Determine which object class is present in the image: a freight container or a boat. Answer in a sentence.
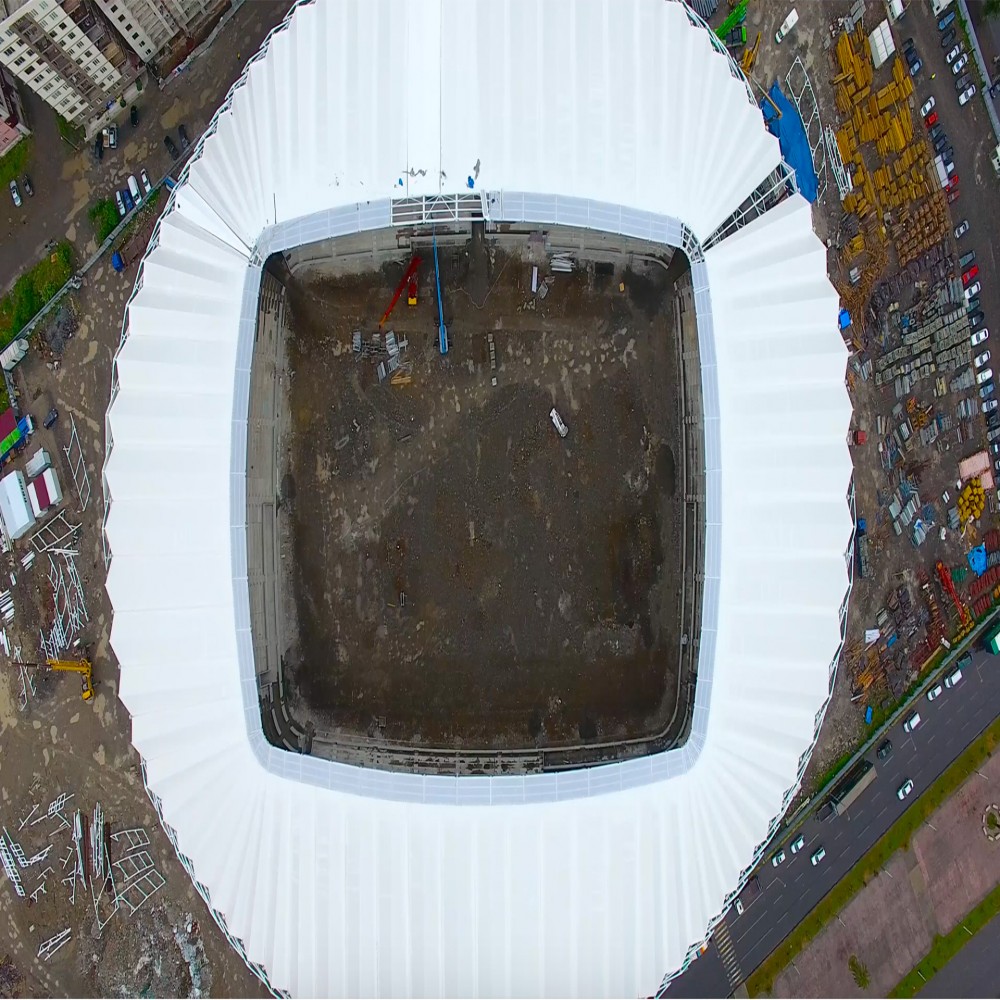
The one in the frame is a freight container.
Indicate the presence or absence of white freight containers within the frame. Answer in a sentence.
Yes, the image includes a white freight container.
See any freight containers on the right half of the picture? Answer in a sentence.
Yes, I can see a freight container on the right half of the picture.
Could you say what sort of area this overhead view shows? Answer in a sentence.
This looks like a sports ground.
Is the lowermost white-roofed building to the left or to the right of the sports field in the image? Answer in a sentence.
Relative to the sports field, the lowermost white-roofed building is on the left.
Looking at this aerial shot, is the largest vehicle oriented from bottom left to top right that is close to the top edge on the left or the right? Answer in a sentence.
The largest vehicle oriented from bottom left to top right that is close to the top edge is on the right side of the image.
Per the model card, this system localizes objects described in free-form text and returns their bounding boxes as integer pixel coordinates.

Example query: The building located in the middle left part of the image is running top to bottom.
[0,470,36,539]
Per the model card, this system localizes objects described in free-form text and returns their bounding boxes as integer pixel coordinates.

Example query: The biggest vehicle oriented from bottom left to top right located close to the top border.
[777,1,803,42]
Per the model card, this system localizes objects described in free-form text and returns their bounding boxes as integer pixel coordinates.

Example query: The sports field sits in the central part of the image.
[269,249,691,751]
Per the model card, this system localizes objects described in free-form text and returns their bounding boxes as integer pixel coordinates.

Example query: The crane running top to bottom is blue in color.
[431,224,455,354]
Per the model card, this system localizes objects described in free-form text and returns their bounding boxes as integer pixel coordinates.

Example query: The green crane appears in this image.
[716,0,753,57]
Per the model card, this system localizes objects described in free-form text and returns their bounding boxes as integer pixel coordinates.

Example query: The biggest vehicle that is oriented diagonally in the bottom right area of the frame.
[817,754,877,817]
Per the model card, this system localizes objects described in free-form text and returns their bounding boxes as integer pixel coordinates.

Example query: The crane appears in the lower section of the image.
[11,658,100,708]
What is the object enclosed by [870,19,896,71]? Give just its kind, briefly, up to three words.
shipping container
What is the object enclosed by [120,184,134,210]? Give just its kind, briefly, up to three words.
vehicle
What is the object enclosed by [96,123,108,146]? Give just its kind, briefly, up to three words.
vehicle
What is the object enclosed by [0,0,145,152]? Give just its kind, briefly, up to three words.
building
